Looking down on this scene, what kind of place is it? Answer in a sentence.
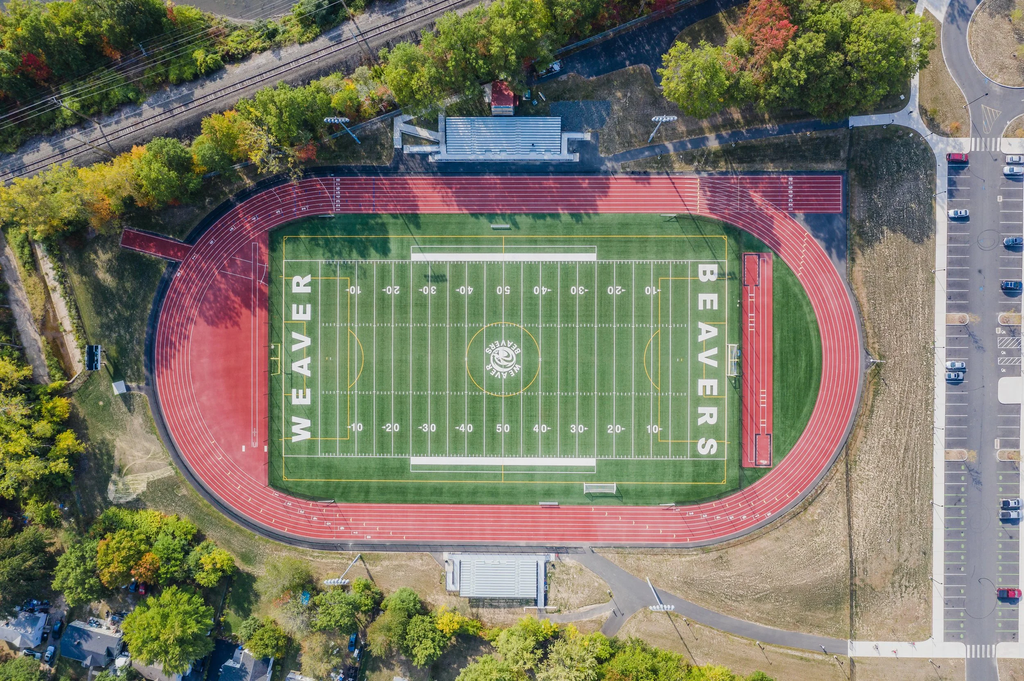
This looks like a sports ground.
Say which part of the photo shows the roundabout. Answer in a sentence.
The roundabout is in the top right part of the image.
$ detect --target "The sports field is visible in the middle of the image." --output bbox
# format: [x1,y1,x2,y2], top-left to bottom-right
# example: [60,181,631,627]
[268,212,824,506]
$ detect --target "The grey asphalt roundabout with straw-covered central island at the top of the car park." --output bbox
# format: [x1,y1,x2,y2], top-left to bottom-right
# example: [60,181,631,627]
[942,0,1024,143]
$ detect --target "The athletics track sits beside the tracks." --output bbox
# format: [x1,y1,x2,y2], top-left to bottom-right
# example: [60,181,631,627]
[121,174,861,543]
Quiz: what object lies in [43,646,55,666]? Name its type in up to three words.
vehicle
